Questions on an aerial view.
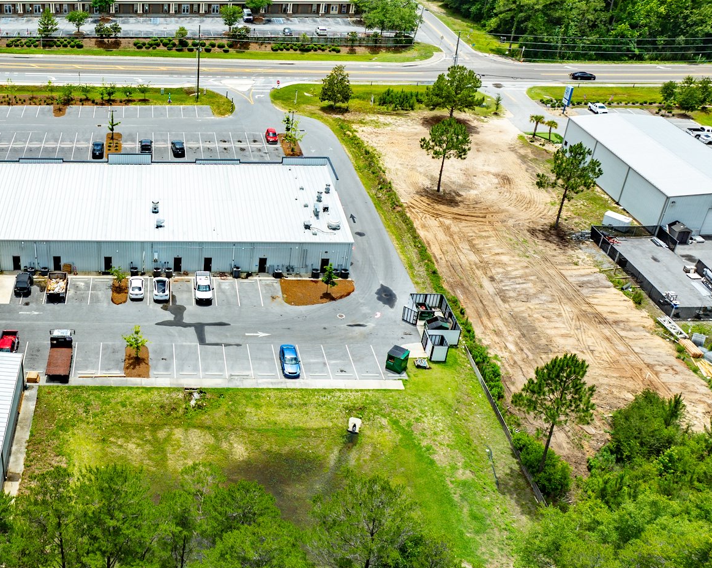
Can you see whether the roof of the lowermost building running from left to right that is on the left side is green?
No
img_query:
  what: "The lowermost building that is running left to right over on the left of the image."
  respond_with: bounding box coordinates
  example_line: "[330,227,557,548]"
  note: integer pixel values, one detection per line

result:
[0,155,357,274]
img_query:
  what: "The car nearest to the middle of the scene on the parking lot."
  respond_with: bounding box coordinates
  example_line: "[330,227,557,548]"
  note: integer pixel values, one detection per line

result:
[278,344,303,376]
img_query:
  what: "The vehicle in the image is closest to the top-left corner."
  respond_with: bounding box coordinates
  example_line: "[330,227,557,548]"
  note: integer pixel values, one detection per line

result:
[90,142,105,161]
